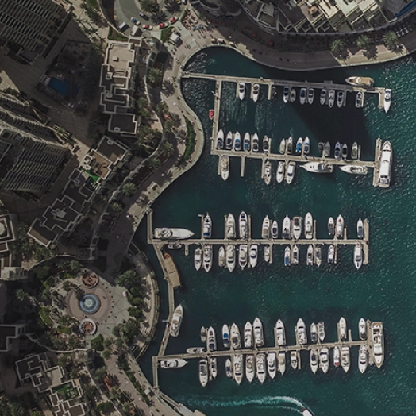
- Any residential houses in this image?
Yes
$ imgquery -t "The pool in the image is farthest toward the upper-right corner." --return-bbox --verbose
[395,0,416,18]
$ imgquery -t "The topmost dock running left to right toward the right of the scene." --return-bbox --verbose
[181,72,383,153]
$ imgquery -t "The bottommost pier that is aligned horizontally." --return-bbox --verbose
[151,322,374,390]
